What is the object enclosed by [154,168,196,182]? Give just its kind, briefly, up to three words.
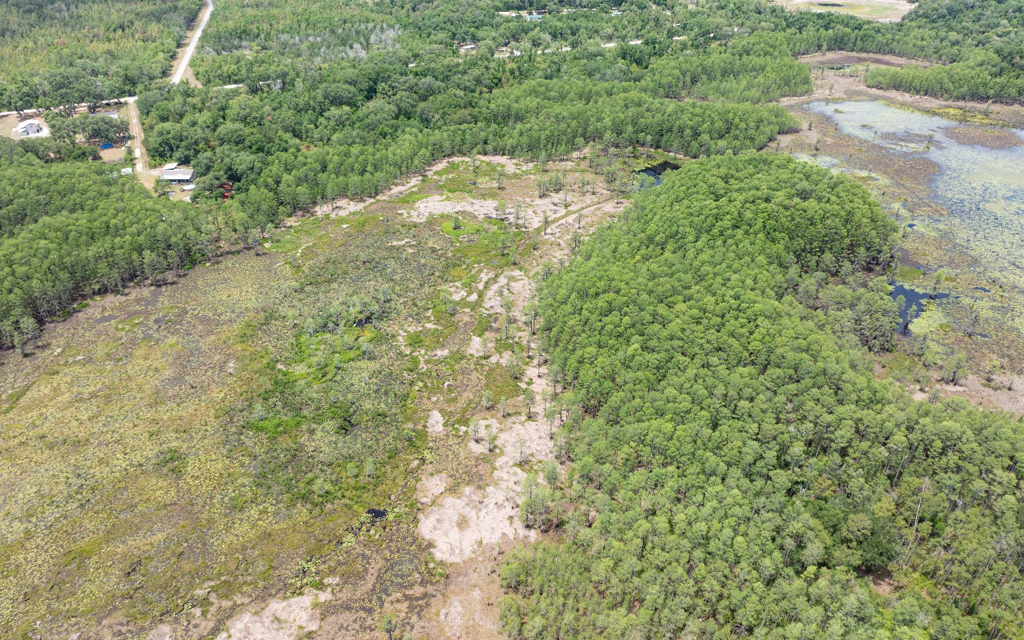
house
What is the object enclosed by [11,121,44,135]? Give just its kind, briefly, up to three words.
barn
